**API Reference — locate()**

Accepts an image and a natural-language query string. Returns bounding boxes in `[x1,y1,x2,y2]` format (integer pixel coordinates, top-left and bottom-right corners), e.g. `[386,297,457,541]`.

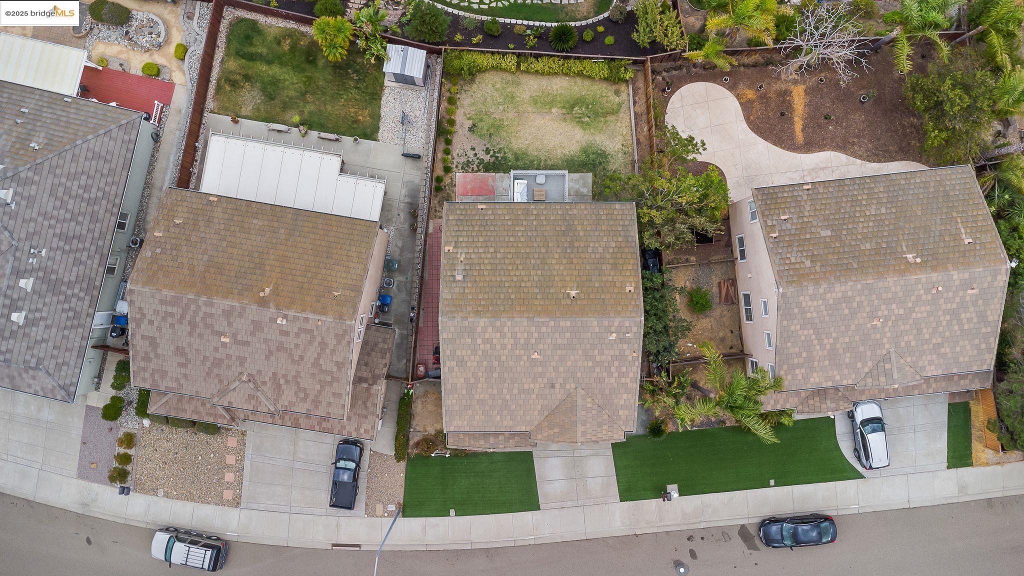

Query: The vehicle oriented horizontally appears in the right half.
[757,512,836,552]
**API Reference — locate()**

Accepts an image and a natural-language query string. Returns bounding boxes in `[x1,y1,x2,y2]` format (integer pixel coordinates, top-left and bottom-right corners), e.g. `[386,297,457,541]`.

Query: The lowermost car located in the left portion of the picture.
[144,527,229,576]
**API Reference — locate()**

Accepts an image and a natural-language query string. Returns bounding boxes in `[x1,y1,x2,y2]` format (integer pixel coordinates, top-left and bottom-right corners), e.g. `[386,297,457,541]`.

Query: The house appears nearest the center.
[440,200,644,450]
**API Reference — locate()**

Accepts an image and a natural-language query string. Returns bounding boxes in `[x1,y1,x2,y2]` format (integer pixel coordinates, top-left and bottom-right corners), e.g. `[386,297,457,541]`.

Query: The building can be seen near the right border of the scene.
[733,162,1024,414]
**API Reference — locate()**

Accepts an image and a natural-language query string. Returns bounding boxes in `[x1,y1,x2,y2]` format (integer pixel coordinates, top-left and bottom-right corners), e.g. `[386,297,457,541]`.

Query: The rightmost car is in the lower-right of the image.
[848,402,893,471]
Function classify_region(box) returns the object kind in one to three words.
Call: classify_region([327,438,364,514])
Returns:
truck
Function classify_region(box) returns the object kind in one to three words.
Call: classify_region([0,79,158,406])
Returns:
house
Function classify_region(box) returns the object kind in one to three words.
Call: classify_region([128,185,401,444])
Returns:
house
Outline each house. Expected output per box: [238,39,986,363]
[128,185,401,444]
[0,79,158,406]
[733,162,1024,414]
[440,200,644,450]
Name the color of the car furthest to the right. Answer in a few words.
white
